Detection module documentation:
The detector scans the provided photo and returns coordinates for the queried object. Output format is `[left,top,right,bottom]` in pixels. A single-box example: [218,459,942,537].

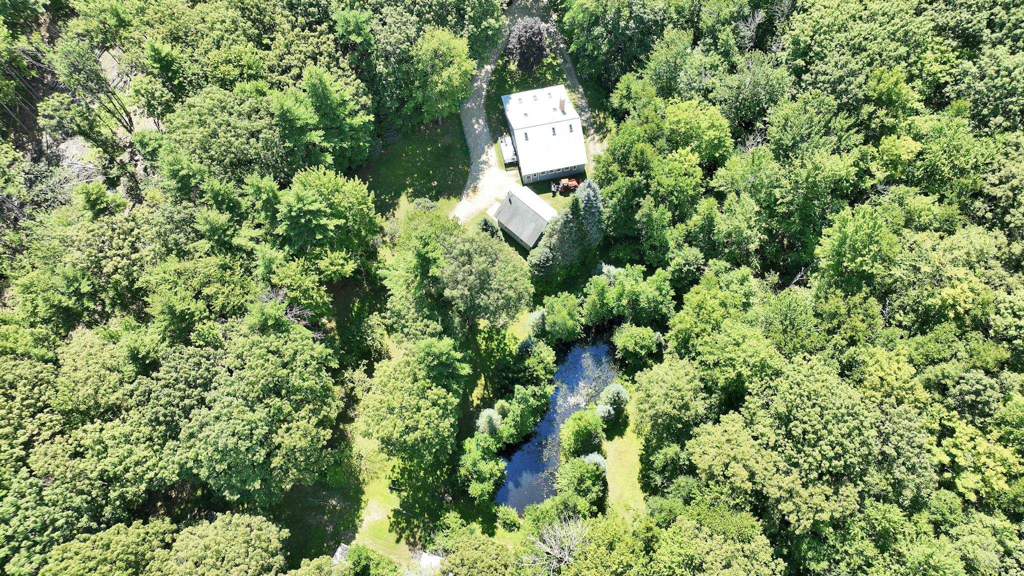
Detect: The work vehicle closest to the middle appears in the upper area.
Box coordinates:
[553,179,583,194]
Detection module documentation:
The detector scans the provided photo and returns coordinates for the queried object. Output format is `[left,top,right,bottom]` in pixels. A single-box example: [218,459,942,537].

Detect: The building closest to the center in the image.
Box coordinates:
[494,188,559,250]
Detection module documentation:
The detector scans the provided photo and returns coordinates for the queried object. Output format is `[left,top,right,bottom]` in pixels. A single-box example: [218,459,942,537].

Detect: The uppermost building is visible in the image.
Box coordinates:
[501,84,588,184]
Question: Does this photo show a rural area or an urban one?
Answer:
rural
